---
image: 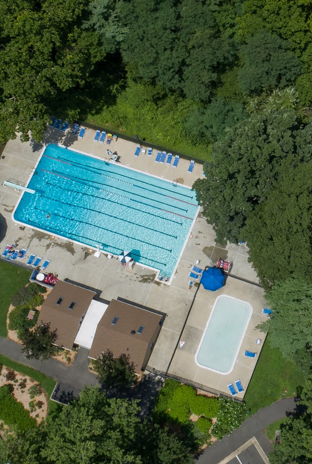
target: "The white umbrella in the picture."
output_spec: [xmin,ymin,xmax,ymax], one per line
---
[118,254,132,268]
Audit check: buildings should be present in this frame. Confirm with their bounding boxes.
[88,298,162,376]
[32,280,96,351]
